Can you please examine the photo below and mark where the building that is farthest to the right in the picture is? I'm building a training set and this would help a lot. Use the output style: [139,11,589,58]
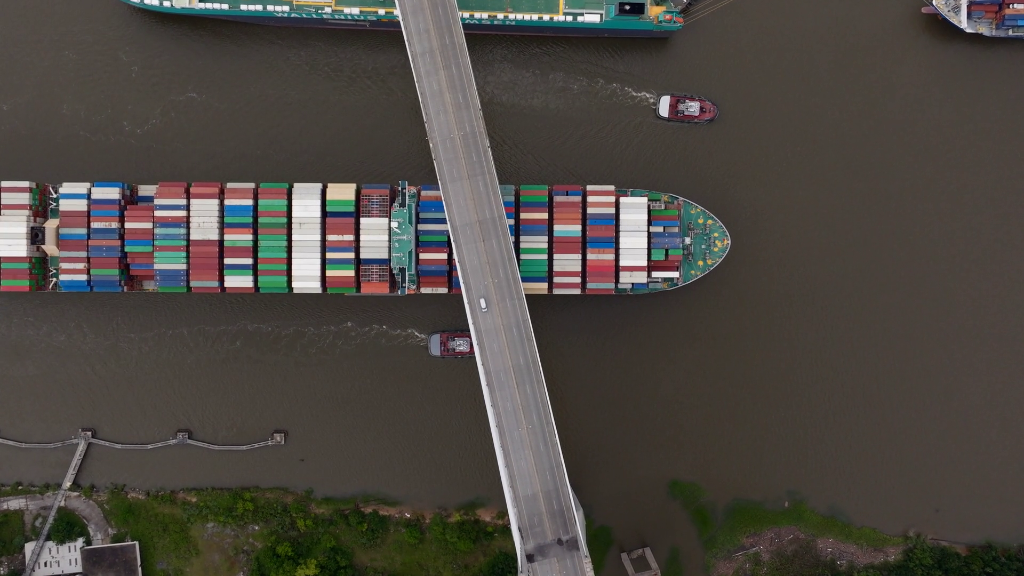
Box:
[80,539,147,576]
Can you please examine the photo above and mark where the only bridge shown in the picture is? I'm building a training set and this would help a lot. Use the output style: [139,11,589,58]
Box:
[396,0,593,576]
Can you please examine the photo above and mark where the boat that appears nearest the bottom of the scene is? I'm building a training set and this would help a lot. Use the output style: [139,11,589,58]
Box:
[428,330,476,360]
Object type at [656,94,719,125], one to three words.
boat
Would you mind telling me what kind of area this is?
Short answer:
port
